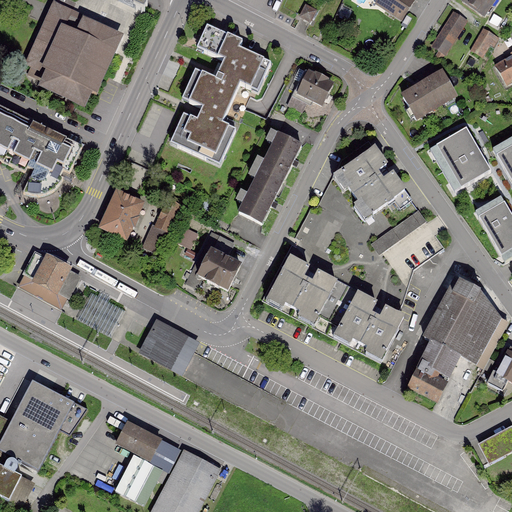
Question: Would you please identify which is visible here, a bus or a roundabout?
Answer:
bus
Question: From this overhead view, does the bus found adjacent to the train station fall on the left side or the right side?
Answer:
left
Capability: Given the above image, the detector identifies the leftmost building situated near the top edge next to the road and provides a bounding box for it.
[27,1,124,108]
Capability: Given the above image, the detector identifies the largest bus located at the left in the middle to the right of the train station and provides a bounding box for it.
[76,260,138,298]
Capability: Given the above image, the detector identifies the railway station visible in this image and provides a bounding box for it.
[18,253,79,310]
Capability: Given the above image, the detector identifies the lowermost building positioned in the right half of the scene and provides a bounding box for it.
[478,423,512,468]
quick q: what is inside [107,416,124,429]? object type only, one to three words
vehicle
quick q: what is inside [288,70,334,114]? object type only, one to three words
house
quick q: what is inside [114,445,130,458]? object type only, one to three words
vehicle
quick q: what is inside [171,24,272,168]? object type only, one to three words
building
